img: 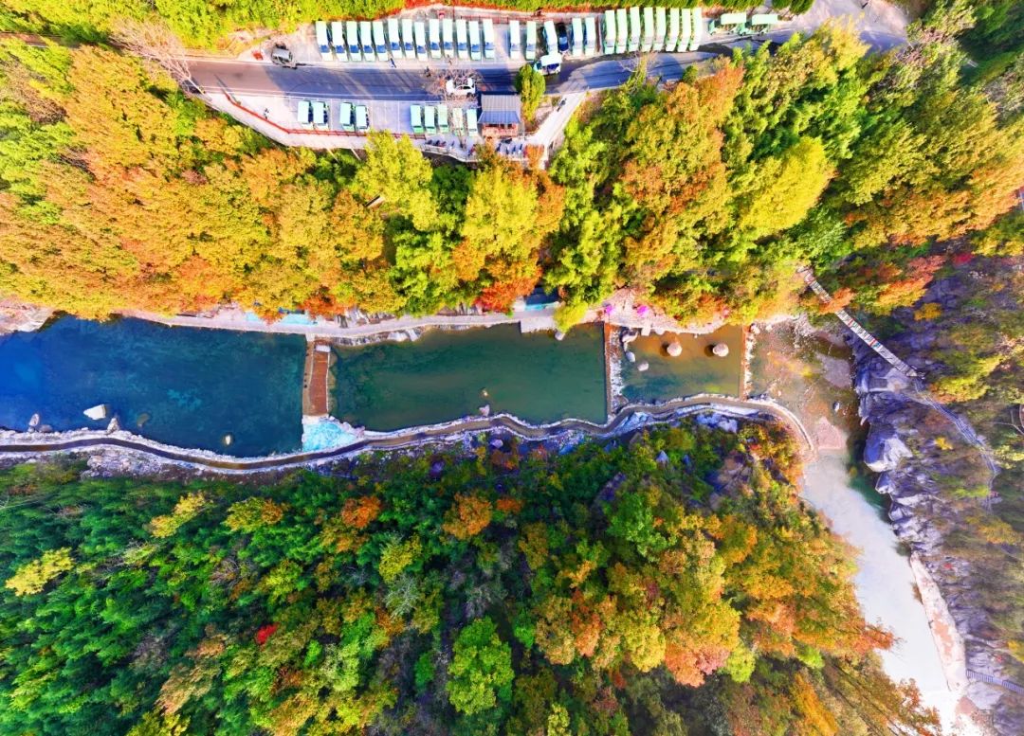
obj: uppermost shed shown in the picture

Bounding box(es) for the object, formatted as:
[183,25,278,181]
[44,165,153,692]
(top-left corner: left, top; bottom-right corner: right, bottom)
[479,95,523,138]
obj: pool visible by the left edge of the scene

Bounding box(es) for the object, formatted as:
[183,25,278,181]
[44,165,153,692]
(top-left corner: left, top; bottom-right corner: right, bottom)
[0,316,304,458]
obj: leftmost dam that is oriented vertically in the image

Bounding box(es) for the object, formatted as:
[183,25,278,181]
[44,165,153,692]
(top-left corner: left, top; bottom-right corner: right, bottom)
[302,337,337,416]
